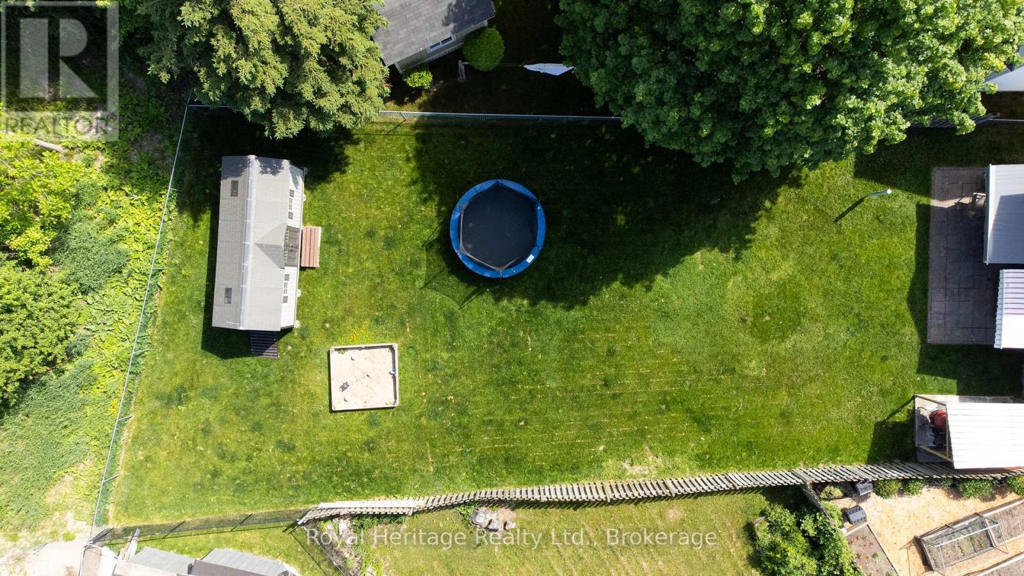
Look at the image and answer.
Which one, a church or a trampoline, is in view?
trampoline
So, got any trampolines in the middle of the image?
Yes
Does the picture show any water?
No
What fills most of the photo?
grass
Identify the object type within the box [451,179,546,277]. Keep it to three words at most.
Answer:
trampoline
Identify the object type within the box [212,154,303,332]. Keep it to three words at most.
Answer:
shed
